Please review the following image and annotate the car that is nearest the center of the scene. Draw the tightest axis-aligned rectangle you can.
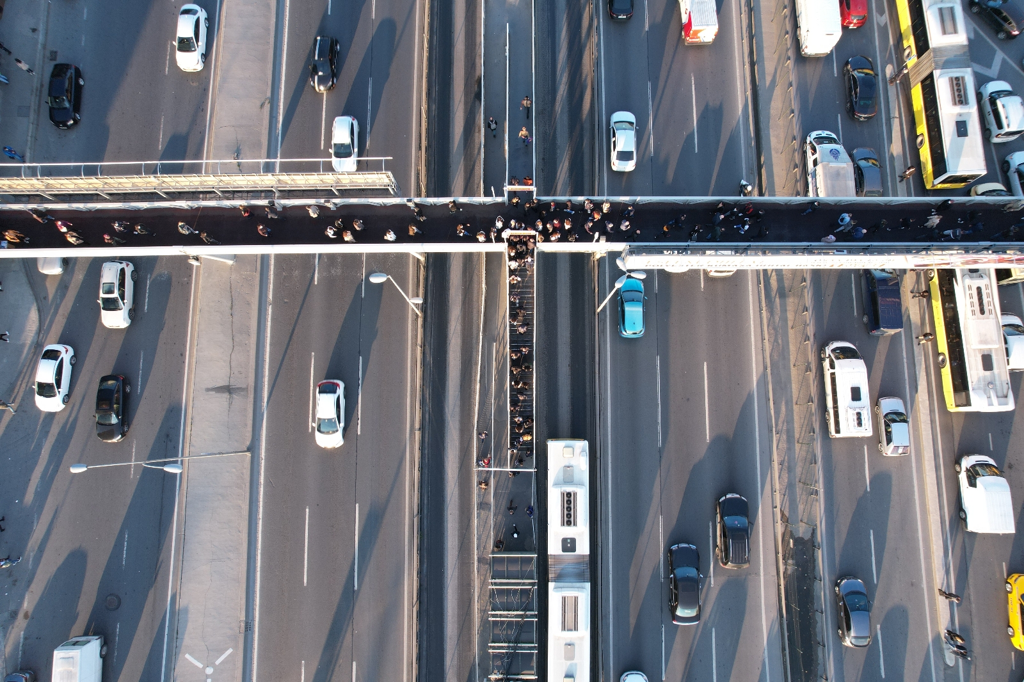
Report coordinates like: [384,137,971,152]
[616,281,649,337]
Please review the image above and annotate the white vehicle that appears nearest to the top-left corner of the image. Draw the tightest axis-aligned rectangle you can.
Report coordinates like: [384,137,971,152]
[173,3,210,71]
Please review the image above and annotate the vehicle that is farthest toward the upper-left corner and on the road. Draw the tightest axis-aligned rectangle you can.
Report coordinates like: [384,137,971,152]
[44,62,87,129]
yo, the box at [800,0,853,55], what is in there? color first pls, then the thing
white truck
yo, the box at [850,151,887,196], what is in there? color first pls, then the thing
blue car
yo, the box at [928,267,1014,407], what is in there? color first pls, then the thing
white bus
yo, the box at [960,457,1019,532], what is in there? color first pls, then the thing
white van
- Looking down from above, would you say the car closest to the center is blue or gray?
blue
